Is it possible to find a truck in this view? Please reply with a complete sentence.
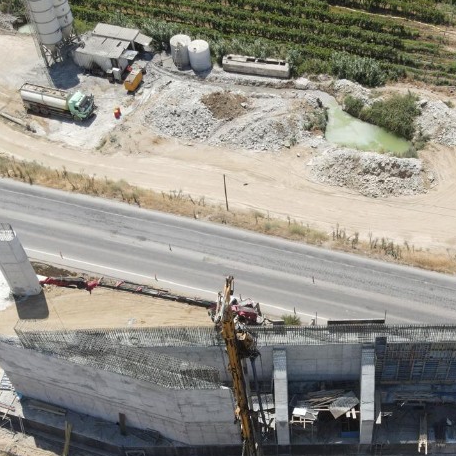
Yes, there is a truck in the image.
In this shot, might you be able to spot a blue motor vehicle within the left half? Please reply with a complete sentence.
No, I see no blue motor vehicle within the left half.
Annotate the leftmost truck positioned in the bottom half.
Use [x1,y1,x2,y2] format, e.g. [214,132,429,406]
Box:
[59,275,263,325]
